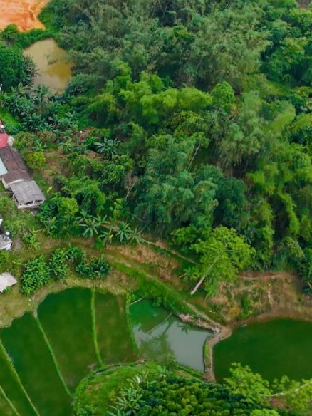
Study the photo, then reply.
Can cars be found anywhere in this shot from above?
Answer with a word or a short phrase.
No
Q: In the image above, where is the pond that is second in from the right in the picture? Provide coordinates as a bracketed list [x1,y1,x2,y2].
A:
[128,300,208,372]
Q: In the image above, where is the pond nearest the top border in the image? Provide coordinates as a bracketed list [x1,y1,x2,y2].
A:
[22,42,72,97]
